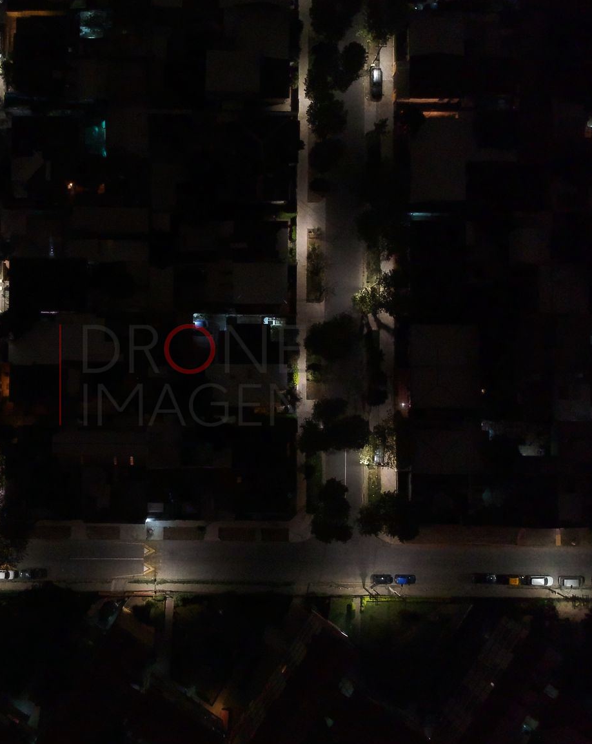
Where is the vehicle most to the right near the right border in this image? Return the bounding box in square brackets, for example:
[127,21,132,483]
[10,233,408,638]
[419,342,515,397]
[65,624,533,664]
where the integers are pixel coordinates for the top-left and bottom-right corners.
[558,577,584,589]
